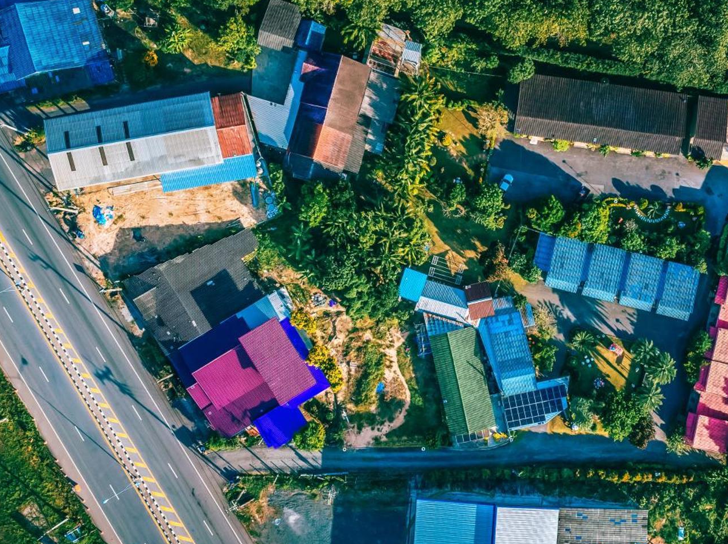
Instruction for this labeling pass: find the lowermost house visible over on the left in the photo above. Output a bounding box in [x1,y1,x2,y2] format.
[167,290,331,447]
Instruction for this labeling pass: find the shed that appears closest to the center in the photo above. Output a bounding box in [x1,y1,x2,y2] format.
[399,268,428,303]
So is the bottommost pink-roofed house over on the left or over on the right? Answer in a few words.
right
